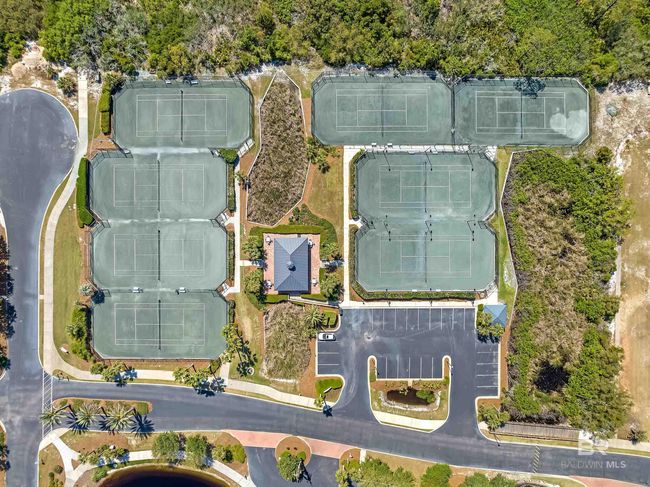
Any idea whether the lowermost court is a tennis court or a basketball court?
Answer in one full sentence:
Looking closely, the lowermost court is a tennis court.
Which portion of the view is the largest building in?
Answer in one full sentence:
You can find the largest building in the center area of the picture.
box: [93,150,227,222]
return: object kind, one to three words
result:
tennis court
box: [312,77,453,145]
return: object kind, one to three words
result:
tennis court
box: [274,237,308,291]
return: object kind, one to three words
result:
building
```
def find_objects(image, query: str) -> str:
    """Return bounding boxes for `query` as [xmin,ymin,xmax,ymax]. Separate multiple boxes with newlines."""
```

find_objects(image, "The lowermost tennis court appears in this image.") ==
[93,291,228,359]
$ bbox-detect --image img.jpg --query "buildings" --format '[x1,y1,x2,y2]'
[482,305,507,327]
[274,237,308,291]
